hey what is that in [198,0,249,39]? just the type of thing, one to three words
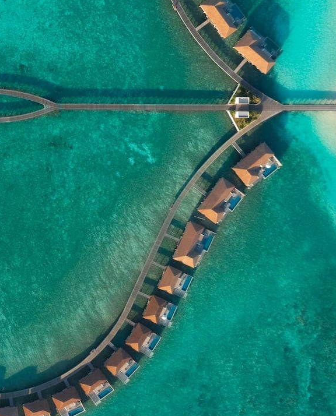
house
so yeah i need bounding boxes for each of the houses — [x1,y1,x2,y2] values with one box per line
[229,142,282,190]
[104,346,142,384]
[198,0,249,39]
[51,385,87,416]
[196,178,247,227]
[23,398,51,416]
[171,221,219,270]
[125,323,162,358]
[79,368,115,406]
[0,407,18,416]
[231,26,285,74]
[157,266,194,300]
[141,294,179,328]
